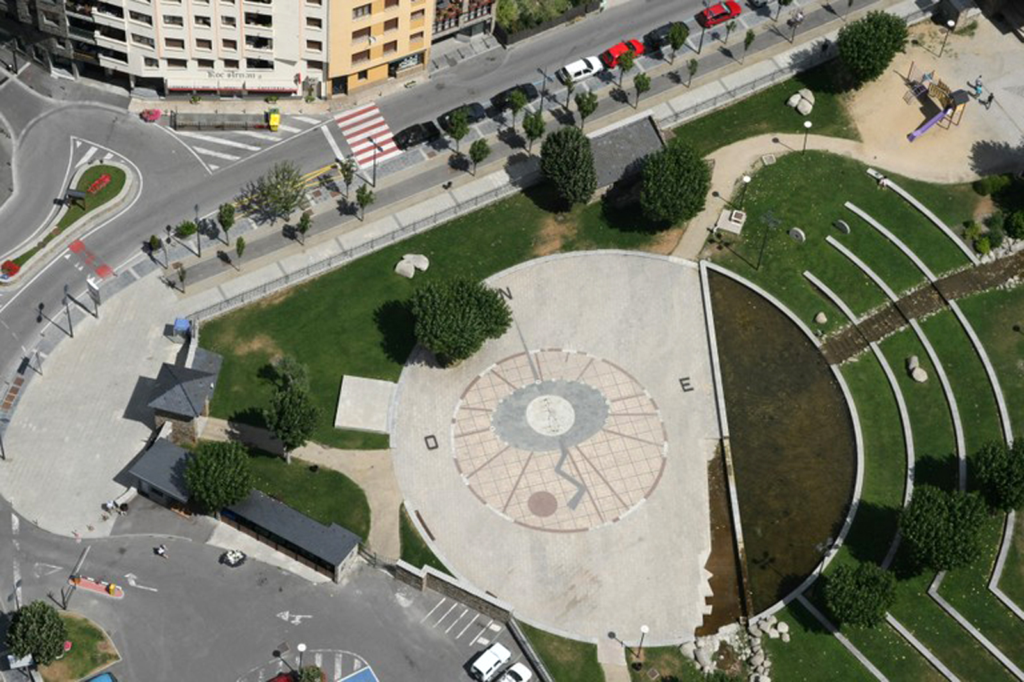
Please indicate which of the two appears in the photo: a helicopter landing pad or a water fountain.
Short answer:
water fountain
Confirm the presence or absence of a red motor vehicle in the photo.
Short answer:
Yes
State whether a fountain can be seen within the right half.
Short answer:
Yes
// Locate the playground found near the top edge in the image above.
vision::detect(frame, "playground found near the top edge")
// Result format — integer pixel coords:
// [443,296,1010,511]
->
[672,11,1024,261]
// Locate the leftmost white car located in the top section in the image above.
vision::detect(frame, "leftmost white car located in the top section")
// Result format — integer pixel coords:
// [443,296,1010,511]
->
[555,52,605,83]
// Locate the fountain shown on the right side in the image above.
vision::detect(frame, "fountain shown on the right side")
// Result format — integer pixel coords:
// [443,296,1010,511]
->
[715,208,747,233]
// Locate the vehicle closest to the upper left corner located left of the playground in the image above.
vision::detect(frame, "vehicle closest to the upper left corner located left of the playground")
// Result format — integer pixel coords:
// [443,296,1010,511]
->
[391,118,442,150]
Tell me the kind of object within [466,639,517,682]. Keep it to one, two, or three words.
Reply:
car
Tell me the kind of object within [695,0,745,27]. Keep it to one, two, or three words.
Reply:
car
